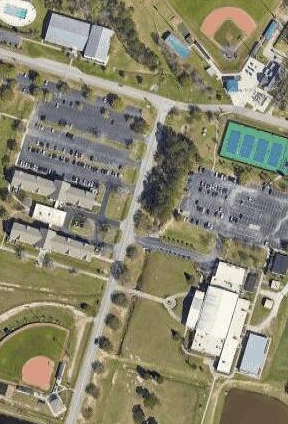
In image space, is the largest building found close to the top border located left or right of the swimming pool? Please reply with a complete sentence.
You can see the largest building found close to the top border positioned to the right of the swimming pool.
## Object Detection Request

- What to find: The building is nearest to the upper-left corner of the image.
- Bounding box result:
[43,12,115,64]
